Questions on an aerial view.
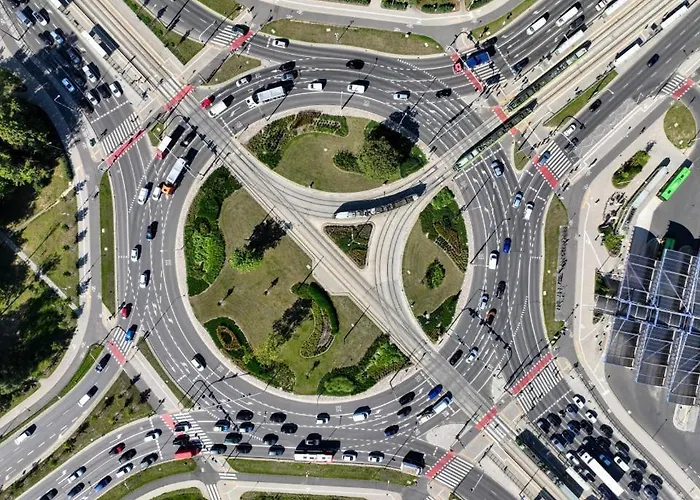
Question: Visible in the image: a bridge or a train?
train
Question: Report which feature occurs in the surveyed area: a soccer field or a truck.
truck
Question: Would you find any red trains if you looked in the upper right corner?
No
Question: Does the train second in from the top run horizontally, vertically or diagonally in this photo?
diagonally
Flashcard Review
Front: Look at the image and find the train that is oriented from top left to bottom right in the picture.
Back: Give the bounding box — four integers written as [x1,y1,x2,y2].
[511,433,581,500]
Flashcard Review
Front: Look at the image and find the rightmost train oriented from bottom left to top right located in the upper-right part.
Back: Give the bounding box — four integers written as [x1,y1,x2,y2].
[503,44,591,115]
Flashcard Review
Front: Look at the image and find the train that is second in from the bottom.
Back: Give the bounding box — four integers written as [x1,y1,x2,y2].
[336,192,419,220]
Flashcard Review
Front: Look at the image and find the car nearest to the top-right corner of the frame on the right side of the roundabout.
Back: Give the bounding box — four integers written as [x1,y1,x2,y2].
[645,53,660,68]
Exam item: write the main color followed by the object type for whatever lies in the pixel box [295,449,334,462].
white vehicle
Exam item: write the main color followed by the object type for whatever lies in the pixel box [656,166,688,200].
green bus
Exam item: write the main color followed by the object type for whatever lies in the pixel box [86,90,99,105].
white vehicle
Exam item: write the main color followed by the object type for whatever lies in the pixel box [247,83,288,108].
white truck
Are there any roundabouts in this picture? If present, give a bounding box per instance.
[116,43,549,472]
